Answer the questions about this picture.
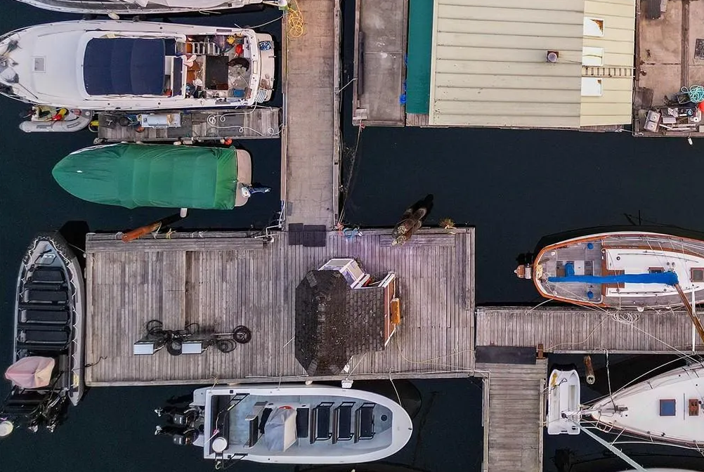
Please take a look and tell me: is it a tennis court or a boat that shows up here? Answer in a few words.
boat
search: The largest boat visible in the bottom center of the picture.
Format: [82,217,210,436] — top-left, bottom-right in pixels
[170,380,414,468]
